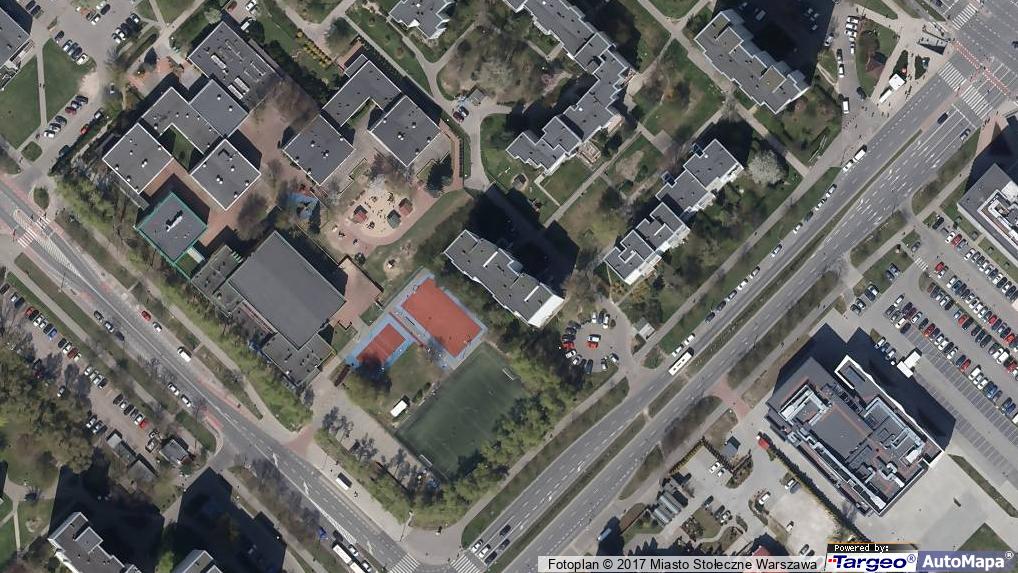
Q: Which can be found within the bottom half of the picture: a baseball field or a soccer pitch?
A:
soccer pitch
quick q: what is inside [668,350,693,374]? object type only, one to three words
bus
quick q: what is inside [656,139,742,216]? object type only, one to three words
building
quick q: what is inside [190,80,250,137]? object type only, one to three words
building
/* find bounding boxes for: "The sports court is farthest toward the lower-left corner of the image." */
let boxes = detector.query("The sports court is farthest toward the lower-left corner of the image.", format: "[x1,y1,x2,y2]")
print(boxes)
[345,313,415,378]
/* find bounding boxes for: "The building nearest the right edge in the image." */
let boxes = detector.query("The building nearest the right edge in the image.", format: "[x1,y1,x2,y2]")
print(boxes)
[954,164,1018,268]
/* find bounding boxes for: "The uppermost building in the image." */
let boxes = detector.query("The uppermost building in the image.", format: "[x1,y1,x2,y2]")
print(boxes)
[390,0,451,44]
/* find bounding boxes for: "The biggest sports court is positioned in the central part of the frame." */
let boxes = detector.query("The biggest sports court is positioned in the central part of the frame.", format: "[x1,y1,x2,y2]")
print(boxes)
[391,267,488,368]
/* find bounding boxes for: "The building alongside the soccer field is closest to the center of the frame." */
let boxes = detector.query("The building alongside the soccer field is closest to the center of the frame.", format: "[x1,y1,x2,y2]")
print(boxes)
[444,230,560,327]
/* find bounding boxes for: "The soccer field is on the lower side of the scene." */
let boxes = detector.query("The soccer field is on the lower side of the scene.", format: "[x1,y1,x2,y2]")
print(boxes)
[396,342,534,482]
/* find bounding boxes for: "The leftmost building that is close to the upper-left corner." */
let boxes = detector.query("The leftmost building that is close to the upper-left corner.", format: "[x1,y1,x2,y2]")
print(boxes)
[0,5,35,90]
